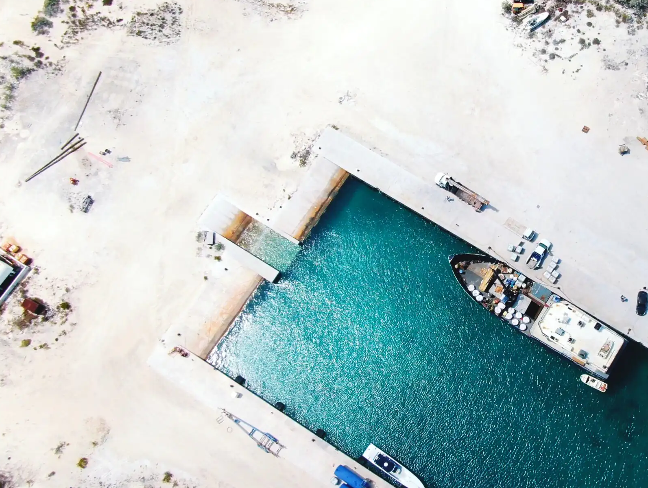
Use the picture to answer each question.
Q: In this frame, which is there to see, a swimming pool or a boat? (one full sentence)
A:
I can see a boat in this picture.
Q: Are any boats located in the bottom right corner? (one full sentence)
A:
Yes, in the bottom right corner there is a boat.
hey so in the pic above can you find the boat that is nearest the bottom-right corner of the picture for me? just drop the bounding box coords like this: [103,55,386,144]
[580,374,610,393]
